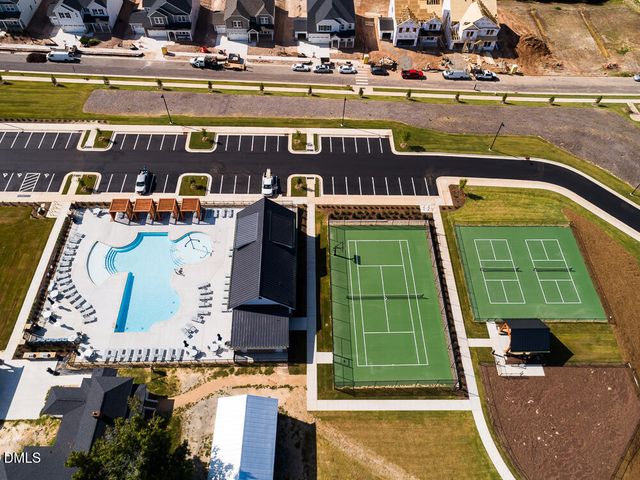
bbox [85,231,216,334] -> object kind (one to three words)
swimming pool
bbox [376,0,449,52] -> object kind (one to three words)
house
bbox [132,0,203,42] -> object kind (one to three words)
house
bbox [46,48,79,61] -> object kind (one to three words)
vehicle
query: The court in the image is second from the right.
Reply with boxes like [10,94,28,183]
[454,226,541,319]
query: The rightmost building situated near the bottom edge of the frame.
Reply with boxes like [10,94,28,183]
[208,396,277,480]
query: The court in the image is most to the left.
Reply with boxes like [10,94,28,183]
[328,224,458,388]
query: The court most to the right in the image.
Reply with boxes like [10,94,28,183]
[511,226,608,319]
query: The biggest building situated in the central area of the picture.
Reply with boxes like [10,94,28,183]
[228,196,296,361]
